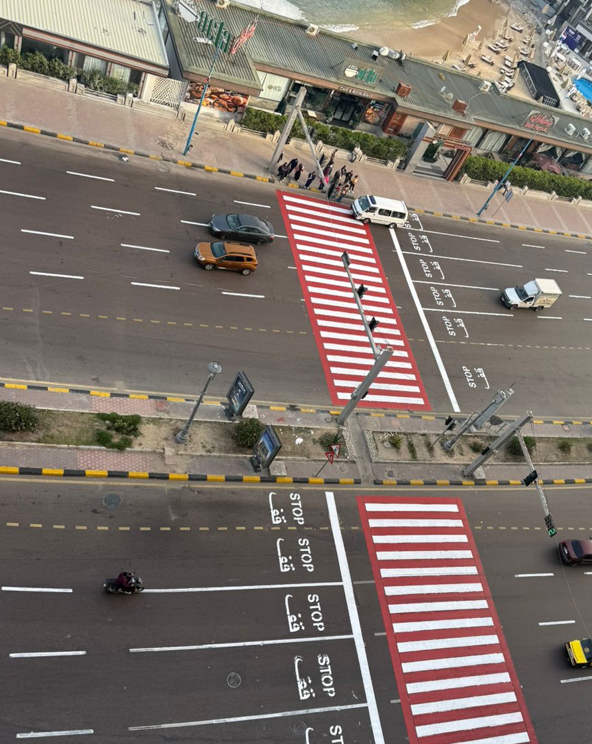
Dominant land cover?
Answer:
paved ground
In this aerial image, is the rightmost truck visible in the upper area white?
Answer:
Yes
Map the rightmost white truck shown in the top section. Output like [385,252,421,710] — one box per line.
[499,276,563,309]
